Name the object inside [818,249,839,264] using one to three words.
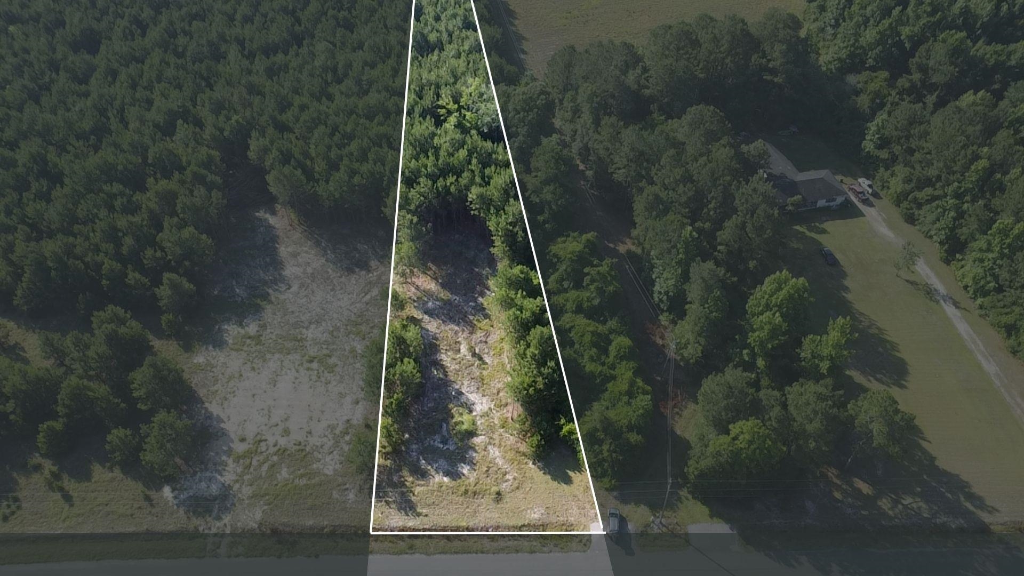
car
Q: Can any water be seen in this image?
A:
No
